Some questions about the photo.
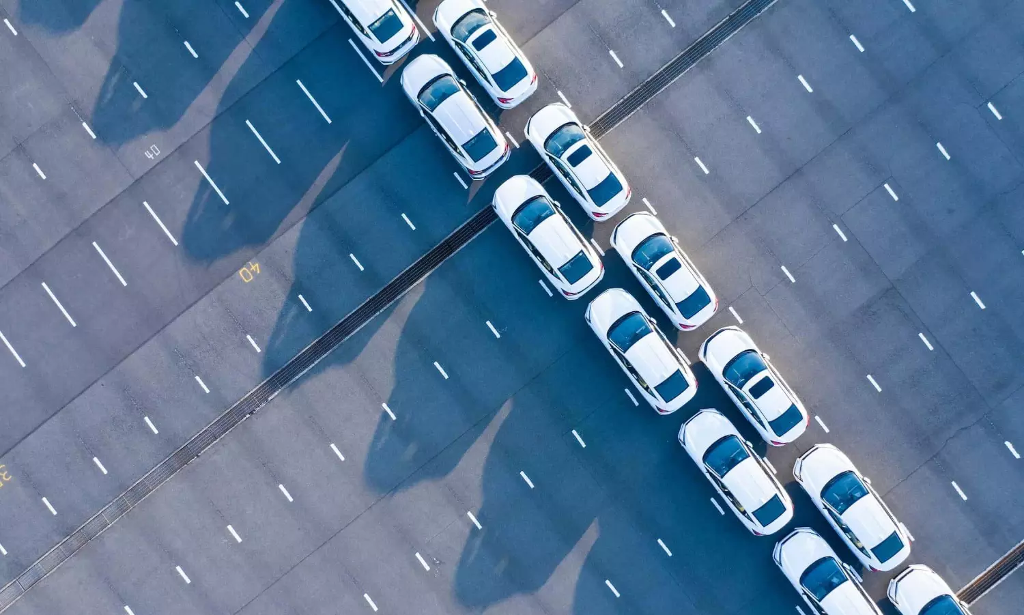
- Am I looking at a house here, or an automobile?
automobile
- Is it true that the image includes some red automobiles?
No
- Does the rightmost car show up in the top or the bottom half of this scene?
bottom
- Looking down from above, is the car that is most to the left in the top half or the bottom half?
top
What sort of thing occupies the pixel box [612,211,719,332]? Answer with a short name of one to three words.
car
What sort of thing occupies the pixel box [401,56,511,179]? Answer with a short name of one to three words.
car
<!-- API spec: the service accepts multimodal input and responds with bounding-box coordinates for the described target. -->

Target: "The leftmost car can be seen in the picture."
[330,0,419,63]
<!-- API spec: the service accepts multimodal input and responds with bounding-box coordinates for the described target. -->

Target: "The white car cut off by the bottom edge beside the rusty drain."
[889,566,973,615]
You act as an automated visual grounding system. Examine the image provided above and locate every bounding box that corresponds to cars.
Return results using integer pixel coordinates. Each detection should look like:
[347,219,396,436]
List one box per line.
[684,409,796,535]
[774,528,883,615]
[401,56,511,179]
[701,326,810,447]
[612,211,719,332]
[586,289,698,413]
[330,0,419,63]
[493,176,603,298]
[796,443,911,570]
[431,0,538,109]
[527,102,633,223]
[889,566,973,615]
